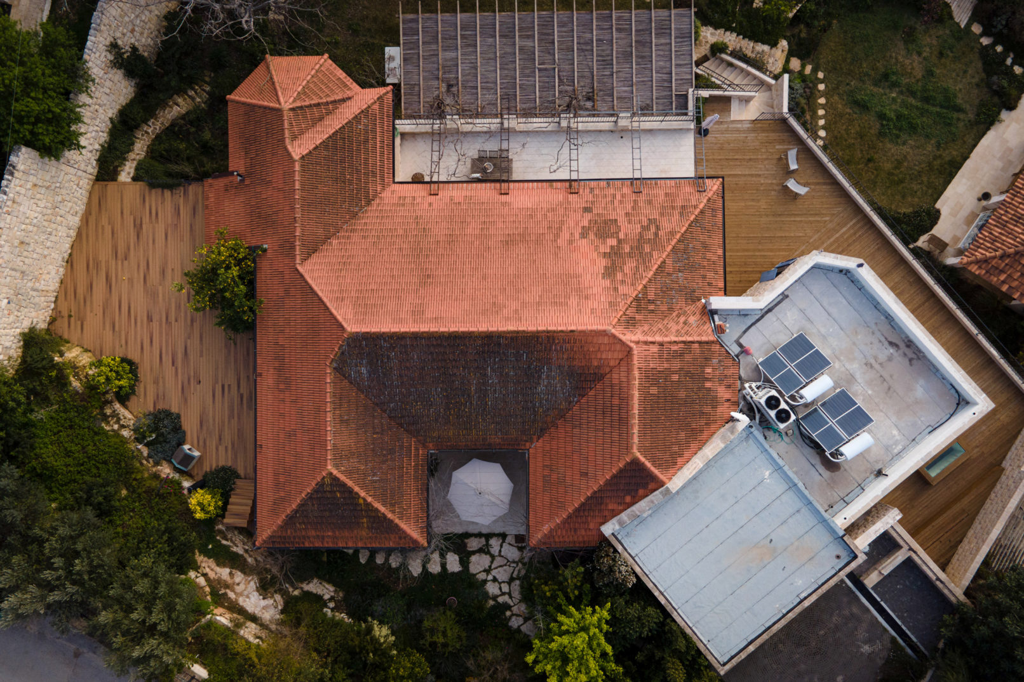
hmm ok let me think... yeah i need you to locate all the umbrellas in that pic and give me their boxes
[699,114,720,138]
[448,458,513,525]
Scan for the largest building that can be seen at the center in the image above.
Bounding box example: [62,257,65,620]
[201,53,740,550]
